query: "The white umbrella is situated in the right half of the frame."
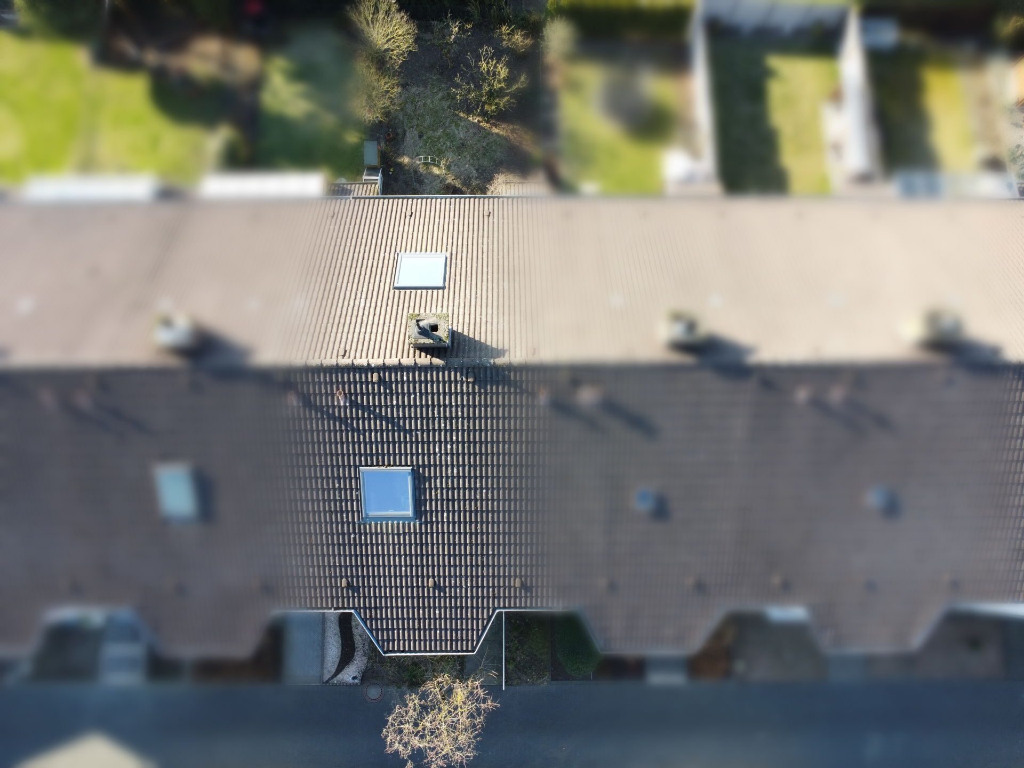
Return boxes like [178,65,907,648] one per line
[658,143,702,193]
